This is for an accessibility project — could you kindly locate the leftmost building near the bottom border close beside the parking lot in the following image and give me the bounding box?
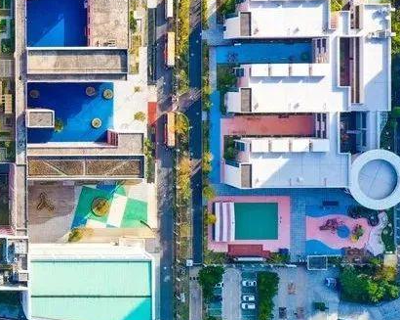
[26,242,155,320]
